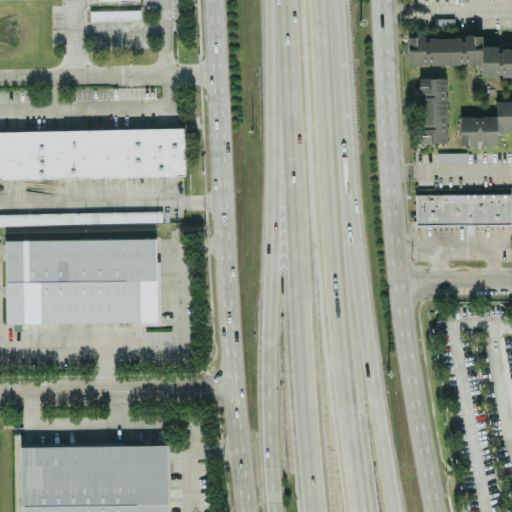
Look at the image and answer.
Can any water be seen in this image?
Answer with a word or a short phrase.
No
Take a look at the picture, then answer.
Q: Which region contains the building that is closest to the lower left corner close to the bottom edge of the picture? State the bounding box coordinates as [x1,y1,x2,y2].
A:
[21,446,170,512]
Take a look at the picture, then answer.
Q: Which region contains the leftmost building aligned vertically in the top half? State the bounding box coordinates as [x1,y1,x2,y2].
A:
[420,78,448,145]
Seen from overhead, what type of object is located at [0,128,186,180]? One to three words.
building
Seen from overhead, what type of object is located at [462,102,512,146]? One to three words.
building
